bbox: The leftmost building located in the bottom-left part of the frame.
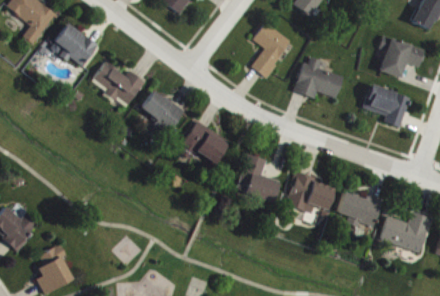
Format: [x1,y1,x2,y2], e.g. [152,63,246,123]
[0,208,33,252]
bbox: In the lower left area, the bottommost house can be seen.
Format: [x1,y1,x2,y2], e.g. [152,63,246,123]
[38,246,74,295]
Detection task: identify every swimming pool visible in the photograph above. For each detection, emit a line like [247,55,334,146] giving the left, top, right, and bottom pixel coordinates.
[32,47,81,85]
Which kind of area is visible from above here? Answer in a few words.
residential area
